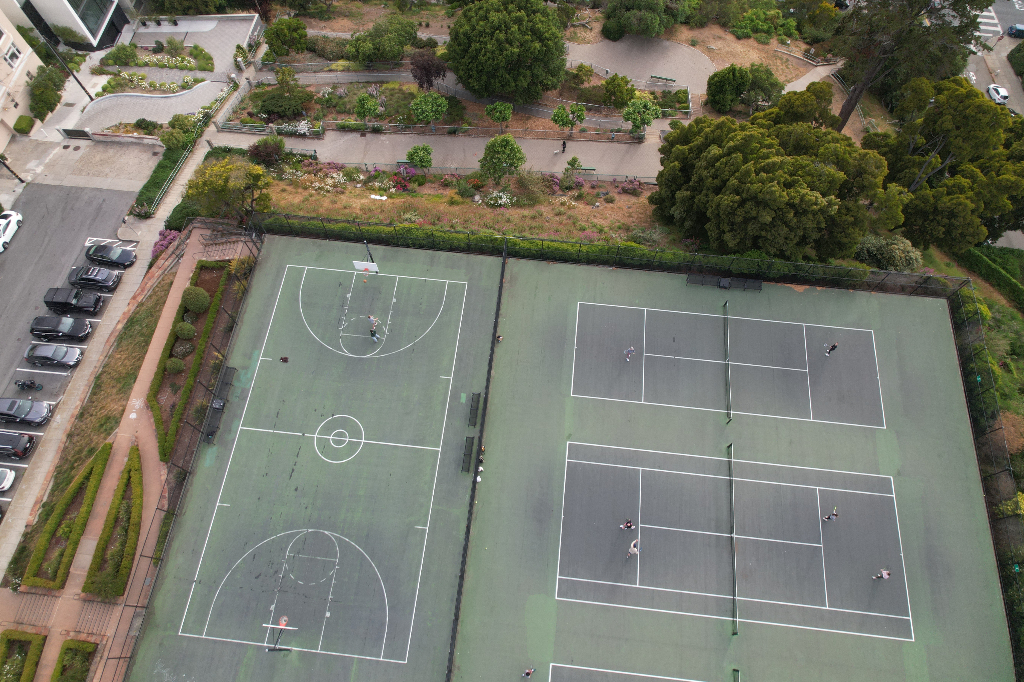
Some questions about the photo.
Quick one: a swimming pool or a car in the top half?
car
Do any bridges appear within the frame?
No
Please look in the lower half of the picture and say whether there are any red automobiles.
No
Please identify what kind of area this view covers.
sports ground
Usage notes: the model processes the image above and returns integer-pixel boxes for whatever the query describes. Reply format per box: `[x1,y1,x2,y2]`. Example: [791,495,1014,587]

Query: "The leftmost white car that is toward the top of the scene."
[0,208,26,254]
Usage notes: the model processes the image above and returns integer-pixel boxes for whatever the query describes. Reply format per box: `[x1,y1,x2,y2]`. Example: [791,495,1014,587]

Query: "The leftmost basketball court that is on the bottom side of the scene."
[127,234,503,682]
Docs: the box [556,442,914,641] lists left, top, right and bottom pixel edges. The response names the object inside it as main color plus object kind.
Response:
gray tennis court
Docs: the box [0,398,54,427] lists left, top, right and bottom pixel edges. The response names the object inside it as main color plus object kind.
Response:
gray car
